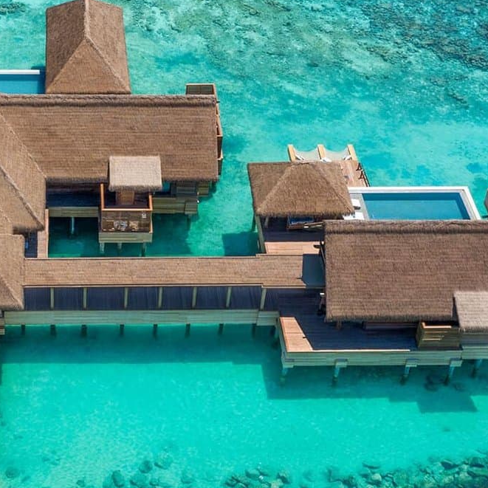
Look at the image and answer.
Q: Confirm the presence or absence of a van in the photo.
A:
No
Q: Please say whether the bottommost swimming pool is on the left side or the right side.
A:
right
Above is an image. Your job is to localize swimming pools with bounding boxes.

[0,69,45,93]
[348,186,481,218]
